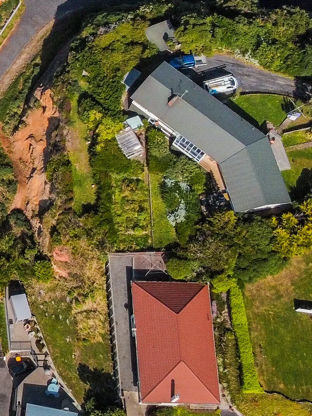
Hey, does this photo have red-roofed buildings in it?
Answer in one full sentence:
Yes, you can see a red-roofed building in this photo.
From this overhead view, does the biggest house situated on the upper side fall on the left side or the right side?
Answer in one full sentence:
The biggest house situated on the upper side appears in the right half of the scene.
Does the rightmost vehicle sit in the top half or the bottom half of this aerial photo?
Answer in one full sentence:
You can find the rightmost vehicle in the top half.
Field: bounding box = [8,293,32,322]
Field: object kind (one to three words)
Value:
building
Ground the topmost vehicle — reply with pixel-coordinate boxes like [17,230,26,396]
[167,54,208,70]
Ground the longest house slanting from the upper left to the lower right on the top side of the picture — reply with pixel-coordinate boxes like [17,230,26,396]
[130,61,293,212]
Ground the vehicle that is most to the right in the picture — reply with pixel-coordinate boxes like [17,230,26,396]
[200,74,237,94]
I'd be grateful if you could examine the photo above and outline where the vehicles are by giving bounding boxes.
[167,54,208,70]
[200,74,237,94]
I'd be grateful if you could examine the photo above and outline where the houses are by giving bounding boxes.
[125,282,220,405]
[130,61,293,212]
[19,403,78,416]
